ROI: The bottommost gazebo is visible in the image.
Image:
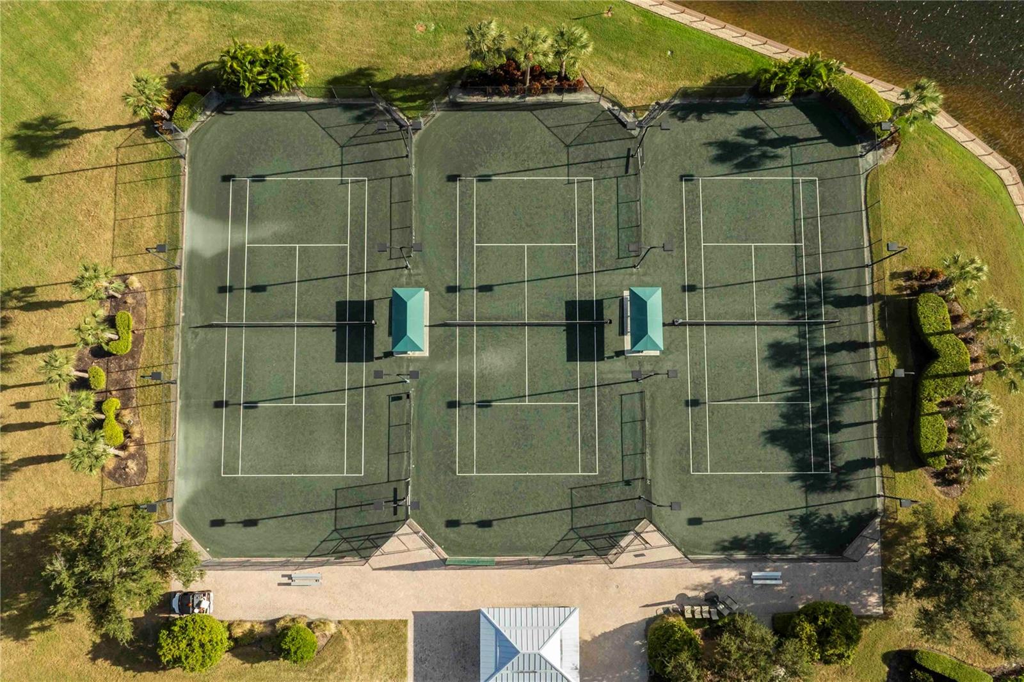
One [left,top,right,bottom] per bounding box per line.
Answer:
[480,605,579,682]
